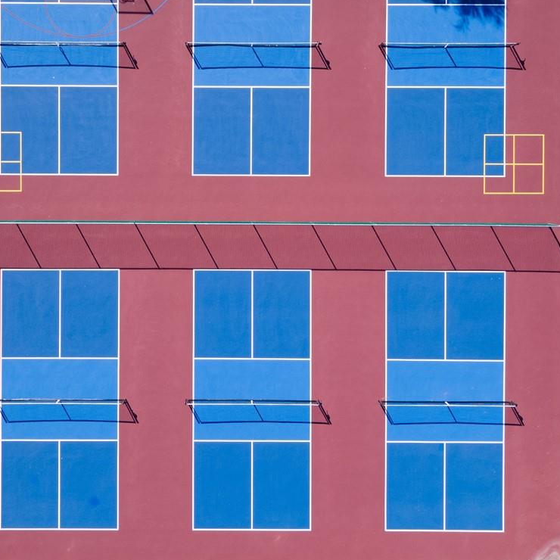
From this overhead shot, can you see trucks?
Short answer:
No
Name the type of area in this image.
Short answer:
sports ground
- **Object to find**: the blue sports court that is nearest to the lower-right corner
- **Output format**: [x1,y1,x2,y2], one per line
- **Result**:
[385,271,506,533]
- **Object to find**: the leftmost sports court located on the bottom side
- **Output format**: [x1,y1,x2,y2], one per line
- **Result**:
[0,269,119,530]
